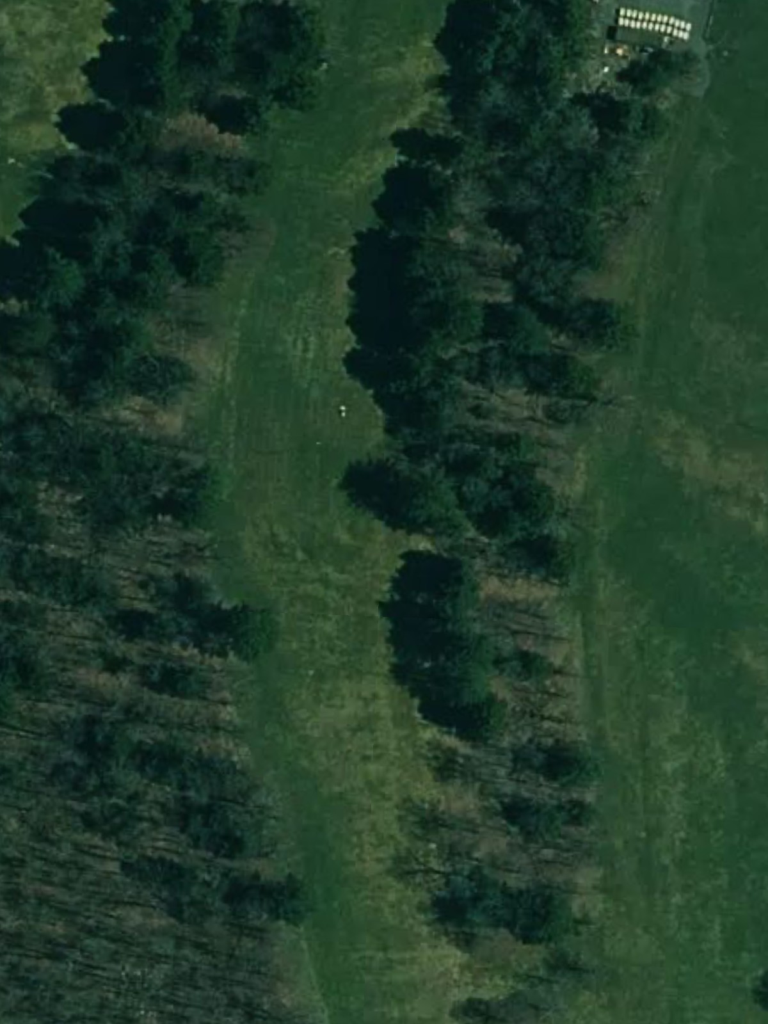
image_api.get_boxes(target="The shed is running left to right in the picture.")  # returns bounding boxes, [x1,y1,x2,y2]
[615,25,663,45]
